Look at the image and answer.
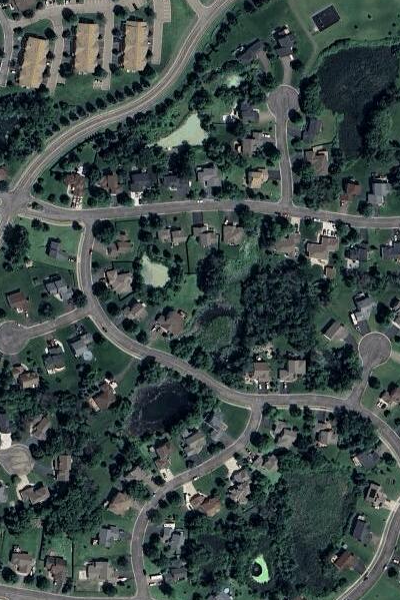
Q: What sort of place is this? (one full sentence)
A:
This image shows a residential area.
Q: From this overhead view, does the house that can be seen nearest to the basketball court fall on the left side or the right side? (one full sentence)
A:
The house that can be seen nearest to the basketball court is on the right side of the image.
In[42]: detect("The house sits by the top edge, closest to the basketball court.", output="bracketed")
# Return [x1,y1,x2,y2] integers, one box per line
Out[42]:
[272,26,293,54]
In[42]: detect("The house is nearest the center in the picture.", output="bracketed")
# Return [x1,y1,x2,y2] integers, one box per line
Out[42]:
[156,308,186,334]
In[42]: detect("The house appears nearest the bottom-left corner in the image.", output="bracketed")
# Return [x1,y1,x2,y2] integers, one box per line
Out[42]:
[9,550,33,574]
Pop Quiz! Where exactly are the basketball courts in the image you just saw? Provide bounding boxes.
[311,4,340,32]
